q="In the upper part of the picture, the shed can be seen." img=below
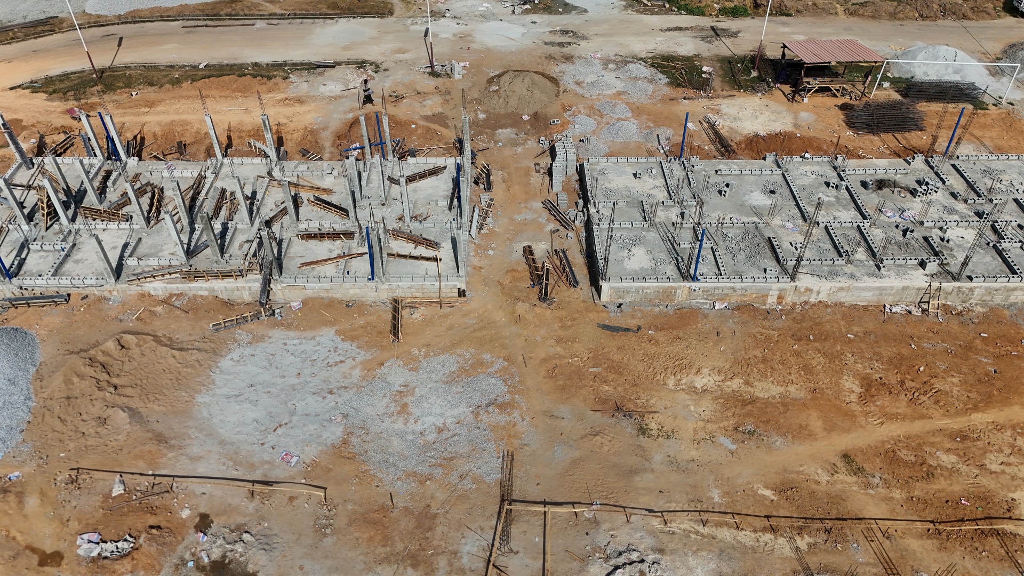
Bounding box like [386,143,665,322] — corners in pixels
[771,37,885,102]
